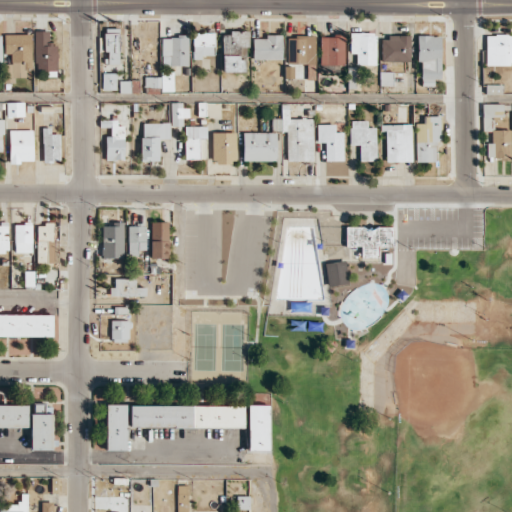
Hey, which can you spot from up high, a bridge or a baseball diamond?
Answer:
baseball diamond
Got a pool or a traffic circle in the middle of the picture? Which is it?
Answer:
pool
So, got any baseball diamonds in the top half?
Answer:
No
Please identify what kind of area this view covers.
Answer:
residential area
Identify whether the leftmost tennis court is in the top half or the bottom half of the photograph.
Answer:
bottom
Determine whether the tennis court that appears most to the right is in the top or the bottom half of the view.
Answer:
bottom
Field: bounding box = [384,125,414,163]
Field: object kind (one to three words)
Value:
house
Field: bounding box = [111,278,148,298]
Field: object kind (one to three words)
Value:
house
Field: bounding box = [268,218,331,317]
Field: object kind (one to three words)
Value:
swimming pool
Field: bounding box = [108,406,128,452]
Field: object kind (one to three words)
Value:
building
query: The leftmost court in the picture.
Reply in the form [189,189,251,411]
[196,324,218,370]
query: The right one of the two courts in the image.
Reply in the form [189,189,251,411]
[222,325,243,371]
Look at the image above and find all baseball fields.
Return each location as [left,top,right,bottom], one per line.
[395,342,476,435]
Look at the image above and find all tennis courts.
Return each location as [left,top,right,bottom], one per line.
[222,325,243,371]
[196,324,218,370]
